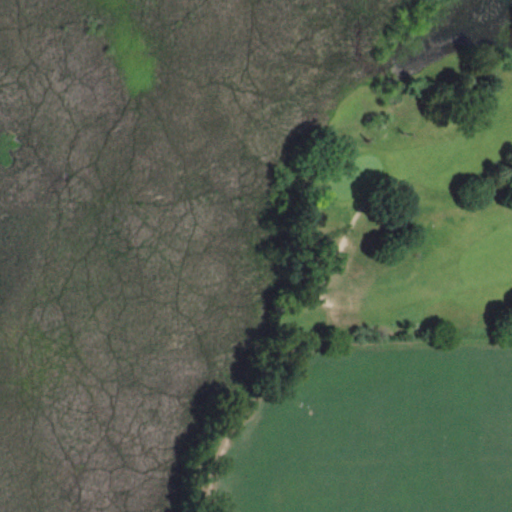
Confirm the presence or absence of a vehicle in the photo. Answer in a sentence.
No, the frame has no vehicle in it.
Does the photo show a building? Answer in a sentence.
No, no building is visible in the scene.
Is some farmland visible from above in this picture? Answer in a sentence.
Yes, the picture does contain farmland.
